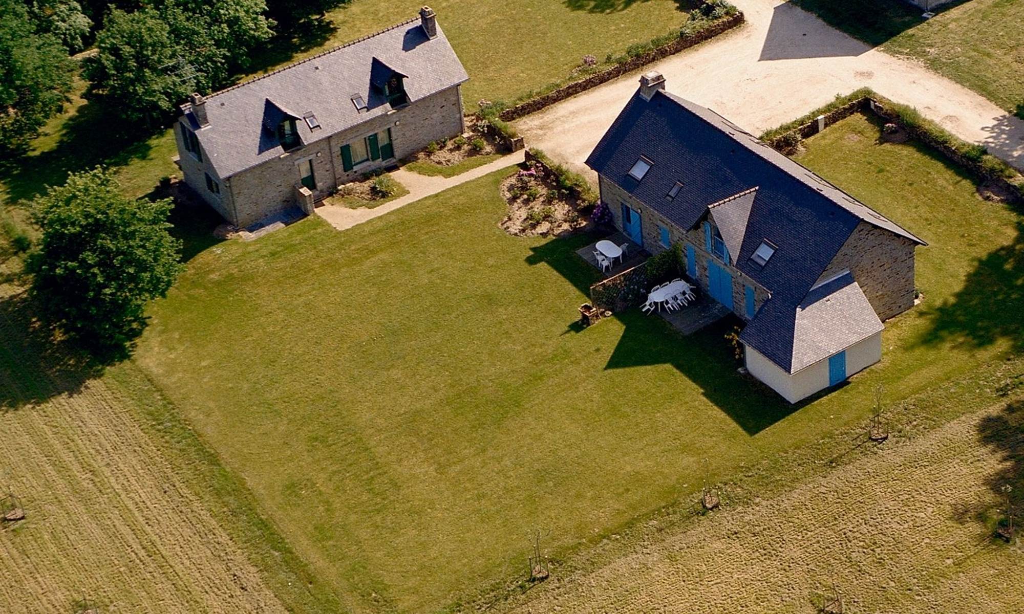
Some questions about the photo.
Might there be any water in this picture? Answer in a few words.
No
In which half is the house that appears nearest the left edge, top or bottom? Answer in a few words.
top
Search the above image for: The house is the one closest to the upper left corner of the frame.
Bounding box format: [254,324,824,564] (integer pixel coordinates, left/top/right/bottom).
[161,2,469,228]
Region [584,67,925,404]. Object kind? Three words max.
house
